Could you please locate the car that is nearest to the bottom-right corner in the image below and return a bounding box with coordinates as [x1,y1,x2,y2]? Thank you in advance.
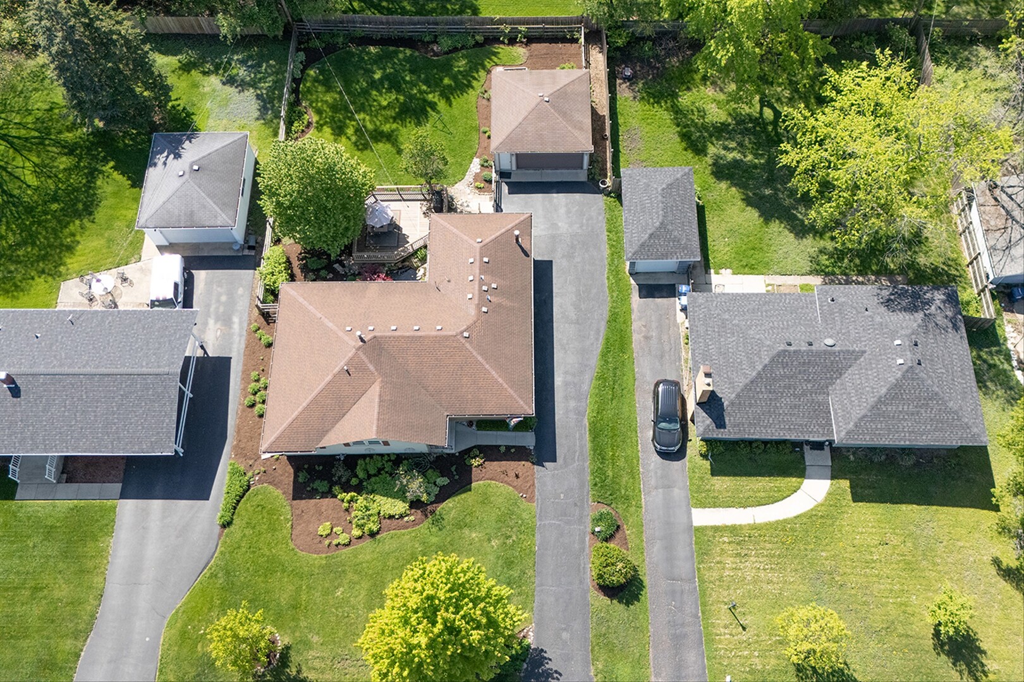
[650,381,687,456]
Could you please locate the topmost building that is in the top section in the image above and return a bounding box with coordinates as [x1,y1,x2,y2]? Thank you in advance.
[490,68,594,169]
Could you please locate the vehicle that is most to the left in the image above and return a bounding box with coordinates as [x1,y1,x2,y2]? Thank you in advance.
[145,254,192,307]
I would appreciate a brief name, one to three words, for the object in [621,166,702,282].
building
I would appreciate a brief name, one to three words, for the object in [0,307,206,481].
house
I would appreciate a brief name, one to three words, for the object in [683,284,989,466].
house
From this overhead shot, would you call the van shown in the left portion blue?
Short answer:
No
